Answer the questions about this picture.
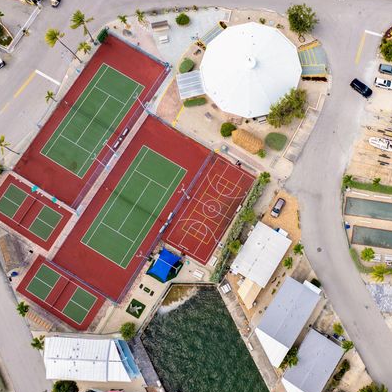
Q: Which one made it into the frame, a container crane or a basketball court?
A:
basketball court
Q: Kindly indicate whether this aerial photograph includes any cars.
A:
Yes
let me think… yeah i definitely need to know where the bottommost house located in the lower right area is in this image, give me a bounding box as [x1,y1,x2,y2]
[283,327,343,392]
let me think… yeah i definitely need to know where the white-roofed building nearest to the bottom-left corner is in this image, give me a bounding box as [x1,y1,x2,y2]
[43,336,143,383]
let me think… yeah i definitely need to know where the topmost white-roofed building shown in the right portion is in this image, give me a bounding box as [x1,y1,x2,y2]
[200,23,303,119]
